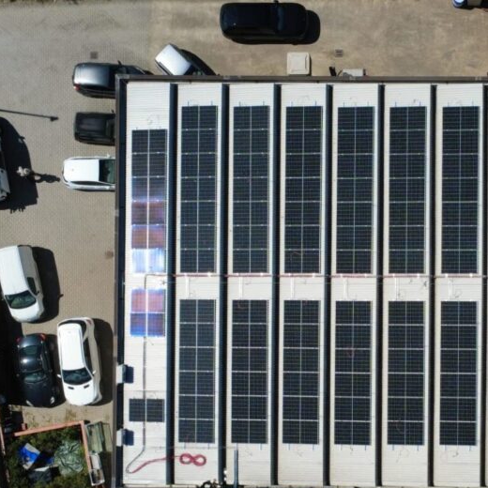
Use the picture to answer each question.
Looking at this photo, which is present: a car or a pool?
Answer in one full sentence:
Of the two, only a car appears.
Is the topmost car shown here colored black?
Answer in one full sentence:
Yes, the topmost car appears black.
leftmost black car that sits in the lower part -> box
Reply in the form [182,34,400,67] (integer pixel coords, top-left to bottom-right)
[16,331,58,409]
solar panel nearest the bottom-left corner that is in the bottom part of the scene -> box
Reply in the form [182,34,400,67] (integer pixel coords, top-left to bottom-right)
[130,396,165,420]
